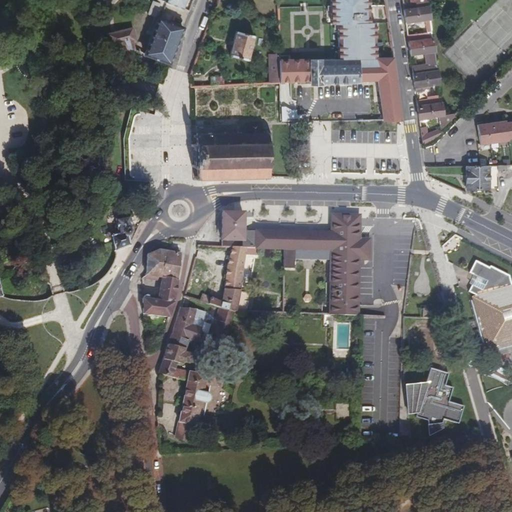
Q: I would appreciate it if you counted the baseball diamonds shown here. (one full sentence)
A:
There are no baseball diamonds in the image.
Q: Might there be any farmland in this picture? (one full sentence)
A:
No, the picture contains no farmland.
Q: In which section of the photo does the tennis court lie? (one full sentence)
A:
The tennis court sits in the top right section of the image.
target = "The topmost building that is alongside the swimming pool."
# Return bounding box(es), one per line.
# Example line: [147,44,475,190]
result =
[255,212,372,314]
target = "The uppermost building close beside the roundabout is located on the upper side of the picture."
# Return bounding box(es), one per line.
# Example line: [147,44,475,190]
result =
[199,142,274,182]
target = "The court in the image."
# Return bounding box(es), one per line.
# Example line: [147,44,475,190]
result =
[444,0,512,81]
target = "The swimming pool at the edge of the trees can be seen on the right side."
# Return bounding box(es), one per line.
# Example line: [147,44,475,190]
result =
[333,322,352,358]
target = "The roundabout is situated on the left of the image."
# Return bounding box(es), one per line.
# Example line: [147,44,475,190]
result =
[157,184,214,237]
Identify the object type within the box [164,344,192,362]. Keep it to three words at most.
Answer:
house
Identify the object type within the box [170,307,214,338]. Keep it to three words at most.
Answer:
house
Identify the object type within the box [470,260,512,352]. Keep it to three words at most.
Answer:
building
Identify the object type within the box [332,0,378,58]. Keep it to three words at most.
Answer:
building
